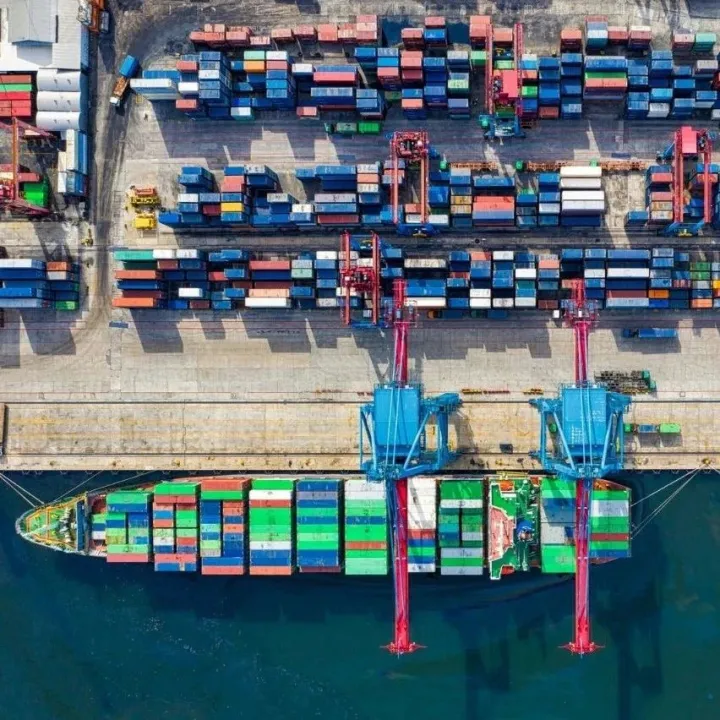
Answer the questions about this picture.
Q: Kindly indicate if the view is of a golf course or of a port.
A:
port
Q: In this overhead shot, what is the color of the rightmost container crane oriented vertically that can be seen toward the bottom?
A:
blue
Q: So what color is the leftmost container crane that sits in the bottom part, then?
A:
blue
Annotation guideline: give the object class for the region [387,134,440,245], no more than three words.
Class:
crane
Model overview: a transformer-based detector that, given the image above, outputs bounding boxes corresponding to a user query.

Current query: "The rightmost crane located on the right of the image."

[655,128,713,242]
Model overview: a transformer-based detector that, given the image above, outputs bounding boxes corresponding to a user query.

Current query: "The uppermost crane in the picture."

[484,25,529,143]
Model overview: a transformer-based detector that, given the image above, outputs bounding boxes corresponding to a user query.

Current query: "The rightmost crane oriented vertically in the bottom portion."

[530,283,635,658]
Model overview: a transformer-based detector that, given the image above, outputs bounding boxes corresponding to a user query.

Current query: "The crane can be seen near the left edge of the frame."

[0,116,64,229]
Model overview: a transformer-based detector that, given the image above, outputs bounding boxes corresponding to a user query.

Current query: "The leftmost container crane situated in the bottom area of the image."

[361,284,477,658]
